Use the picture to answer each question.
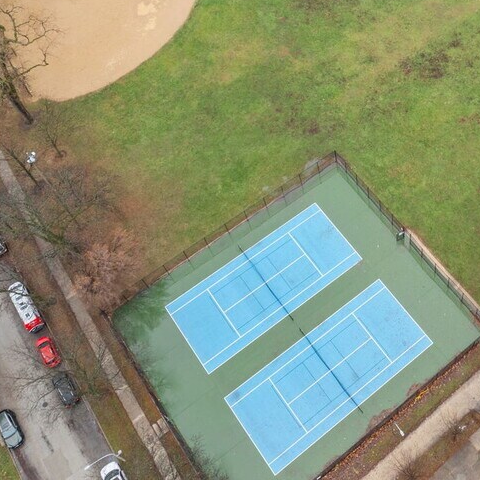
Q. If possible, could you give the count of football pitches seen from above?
0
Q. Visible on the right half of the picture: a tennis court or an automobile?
tennis court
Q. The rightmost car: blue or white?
white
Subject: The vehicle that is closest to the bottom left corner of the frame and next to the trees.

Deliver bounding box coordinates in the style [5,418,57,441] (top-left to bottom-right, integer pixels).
[0,407,26,451]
